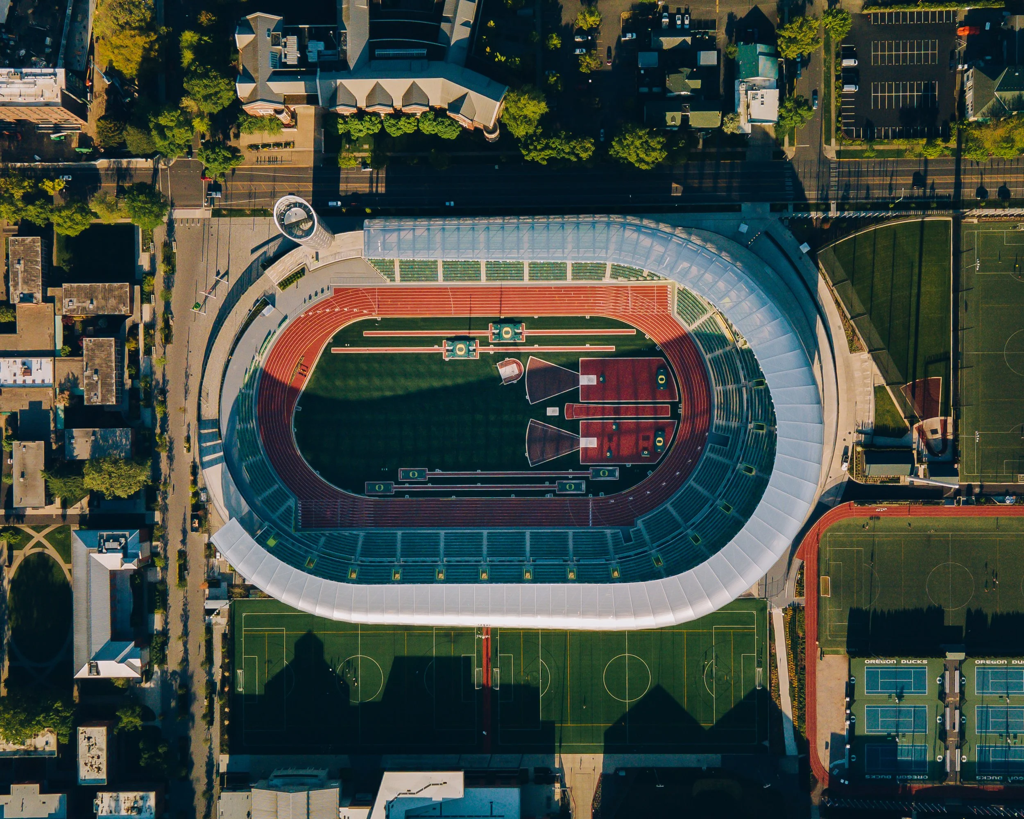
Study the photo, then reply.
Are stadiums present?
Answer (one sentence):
Yes, the picture does show a stadium.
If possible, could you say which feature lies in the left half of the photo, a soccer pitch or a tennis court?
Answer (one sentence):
The feature located in the left half of the photo is a soccer pitch.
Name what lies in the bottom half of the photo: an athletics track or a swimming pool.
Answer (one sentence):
There is an athletics track in the bottom half of the photo.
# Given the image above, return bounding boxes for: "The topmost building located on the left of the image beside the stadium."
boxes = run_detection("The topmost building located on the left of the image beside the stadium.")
[233,0,510,147]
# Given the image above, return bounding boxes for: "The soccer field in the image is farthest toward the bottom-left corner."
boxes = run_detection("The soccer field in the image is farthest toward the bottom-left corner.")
[234,599,482,755]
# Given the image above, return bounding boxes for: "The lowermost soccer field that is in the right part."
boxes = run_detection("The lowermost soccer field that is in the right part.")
[490,599,768,755]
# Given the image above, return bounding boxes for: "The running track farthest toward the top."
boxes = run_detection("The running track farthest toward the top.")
[257,287,710,528]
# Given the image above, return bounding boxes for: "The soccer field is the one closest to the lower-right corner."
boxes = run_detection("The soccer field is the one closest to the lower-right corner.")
[818,517,1024,657]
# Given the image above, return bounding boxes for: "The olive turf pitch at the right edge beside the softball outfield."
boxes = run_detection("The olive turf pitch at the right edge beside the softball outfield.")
[960,223,1024,482]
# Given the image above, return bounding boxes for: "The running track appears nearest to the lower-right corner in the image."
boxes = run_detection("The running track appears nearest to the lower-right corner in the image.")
[796,502,1024,785]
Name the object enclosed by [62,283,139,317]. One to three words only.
building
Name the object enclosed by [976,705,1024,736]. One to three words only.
tennis court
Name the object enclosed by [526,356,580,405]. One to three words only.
sports field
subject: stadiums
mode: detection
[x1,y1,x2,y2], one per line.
[209,214,824,630]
